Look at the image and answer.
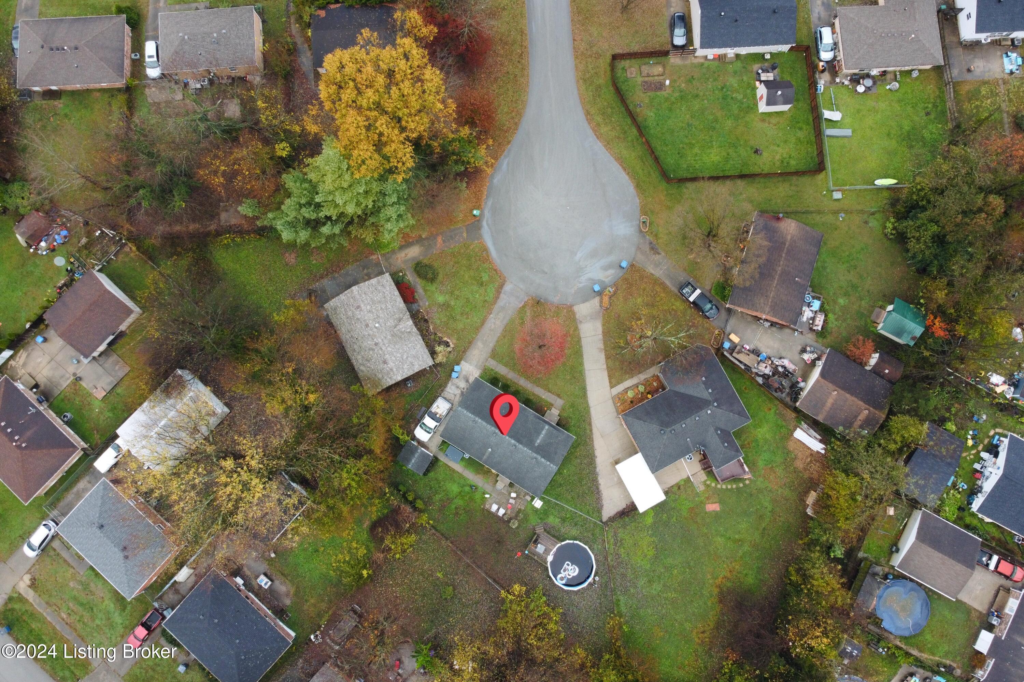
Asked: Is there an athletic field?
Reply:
No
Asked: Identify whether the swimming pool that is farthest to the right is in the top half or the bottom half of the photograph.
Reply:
bottom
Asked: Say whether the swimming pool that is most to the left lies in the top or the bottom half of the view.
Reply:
bottom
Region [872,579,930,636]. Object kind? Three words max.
swimming pool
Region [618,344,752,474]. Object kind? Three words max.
house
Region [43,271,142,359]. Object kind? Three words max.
building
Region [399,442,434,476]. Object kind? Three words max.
shed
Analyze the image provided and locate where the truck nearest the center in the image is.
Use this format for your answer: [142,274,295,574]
[413,393,456,445]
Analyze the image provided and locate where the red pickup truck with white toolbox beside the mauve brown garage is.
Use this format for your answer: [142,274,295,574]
[981,546,1024,584]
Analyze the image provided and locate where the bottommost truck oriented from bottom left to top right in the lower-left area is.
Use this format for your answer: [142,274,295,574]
[125,602,166,652]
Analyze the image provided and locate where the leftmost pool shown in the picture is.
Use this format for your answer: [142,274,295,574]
[546,539,595,589]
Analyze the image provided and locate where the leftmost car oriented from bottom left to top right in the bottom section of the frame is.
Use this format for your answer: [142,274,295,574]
[23,516,61,560]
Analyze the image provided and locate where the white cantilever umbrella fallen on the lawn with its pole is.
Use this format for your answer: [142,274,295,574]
[822,89,841,122]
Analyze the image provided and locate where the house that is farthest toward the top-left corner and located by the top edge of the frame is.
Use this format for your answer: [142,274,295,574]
[18,15,136,95]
